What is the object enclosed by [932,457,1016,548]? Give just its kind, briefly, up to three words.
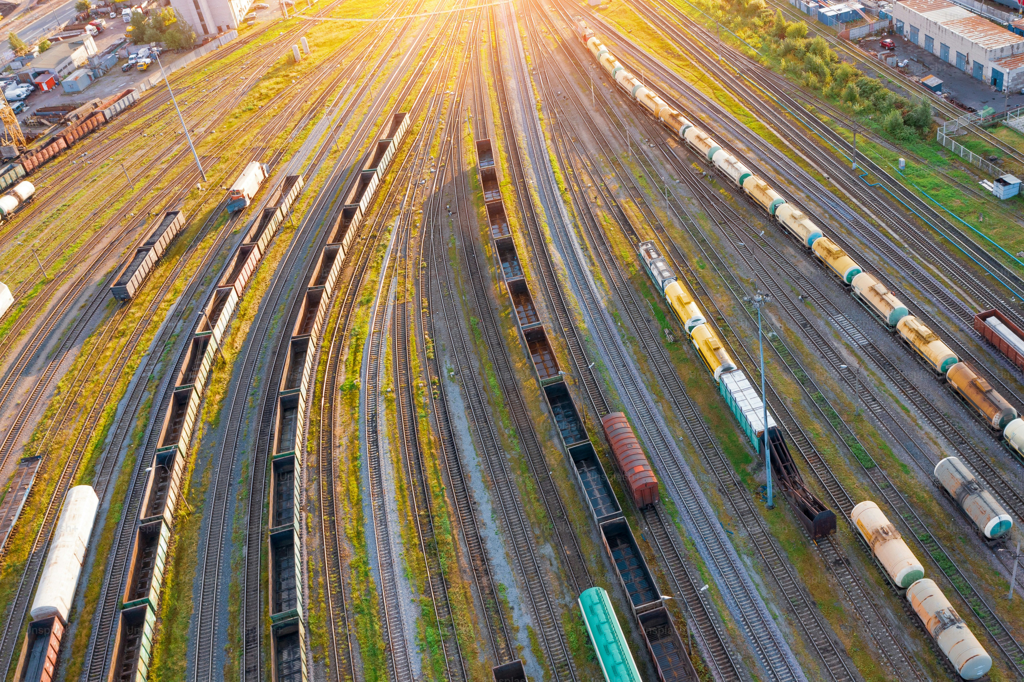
rail car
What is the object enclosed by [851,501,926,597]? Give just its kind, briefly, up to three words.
rail car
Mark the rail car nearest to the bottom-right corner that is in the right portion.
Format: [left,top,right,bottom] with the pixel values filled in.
[904,579,996,682]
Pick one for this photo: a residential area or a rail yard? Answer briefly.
rail yard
